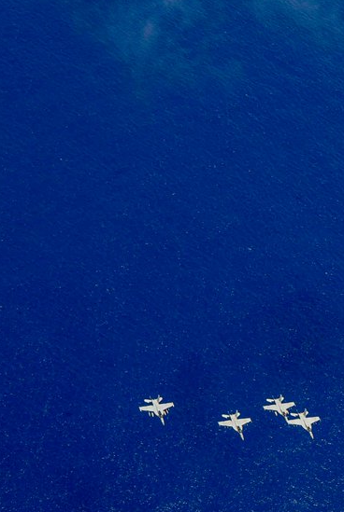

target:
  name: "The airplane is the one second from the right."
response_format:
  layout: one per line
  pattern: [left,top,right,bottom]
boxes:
[263,394,296,423]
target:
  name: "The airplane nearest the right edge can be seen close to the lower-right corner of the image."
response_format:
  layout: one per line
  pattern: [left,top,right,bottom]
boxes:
[287,408,320,439]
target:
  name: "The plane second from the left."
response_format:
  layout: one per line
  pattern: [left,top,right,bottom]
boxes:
[218,410,252,440]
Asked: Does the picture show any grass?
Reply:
No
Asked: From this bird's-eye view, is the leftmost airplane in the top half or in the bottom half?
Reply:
bottom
